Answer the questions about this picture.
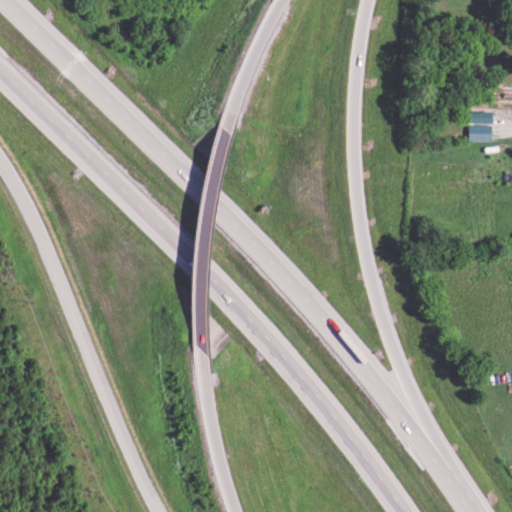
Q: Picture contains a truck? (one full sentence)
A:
Yes, I can see a truck in this picture.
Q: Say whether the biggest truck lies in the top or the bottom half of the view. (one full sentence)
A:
It is in the bottom half that the biggest truck appears.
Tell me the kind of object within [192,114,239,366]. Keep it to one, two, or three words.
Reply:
overpass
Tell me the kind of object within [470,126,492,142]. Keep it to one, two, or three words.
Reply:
shed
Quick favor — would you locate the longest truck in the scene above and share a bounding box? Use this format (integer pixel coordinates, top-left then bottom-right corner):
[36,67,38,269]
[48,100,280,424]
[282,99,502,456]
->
[326,318,368,364]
